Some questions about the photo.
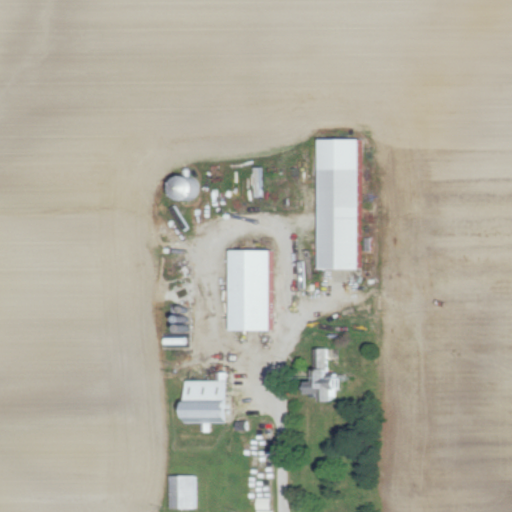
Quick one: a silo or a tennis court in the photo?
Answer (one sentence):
I can see a silo in this picture.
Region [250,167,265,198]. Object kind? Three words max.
shed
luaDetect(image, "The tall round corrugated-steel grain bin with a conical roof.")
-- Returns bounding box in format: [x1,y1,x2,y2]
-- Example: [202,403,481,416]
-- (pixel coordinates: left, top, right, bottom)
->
[165,174,200,202]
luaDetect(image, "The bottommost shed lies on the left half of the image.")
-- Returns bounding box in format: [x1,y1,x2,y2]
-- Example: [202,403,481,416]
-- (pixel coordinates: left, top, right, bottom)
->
[169,476,200,510]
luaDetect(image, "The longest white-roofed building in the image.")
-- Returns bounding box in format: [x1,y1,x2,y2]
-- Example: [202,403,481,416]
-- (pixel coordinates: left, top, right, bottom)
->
[316,138,362,270]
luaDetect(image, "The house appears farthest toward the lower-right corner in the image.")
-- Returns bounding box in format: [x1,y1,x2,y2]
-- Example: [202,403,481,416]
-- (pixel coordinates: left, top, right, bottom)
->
[300,348,342,402]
